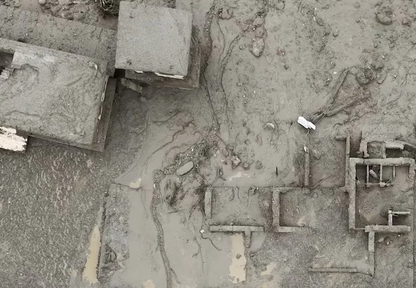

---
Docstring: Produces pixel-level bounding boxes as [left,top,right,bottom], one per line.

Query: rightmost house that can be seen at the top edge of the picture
[115,1,201,92]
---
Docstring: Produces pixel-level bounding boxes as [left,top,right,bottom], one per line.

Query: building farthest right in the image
[310,136,416,277]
